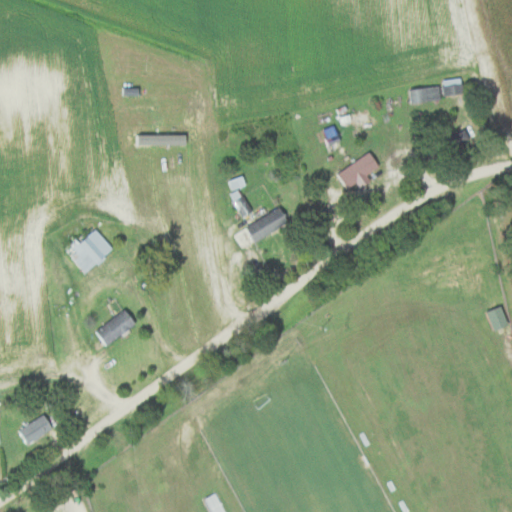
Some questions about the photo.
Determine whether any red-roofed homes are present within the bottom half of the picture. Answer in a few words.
No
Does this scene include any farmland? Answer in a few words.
Yes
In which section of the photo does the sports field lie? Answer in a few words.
bottom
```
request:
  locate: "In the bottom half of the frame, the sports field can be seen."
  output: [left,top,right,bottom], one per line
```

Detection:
[200,352,394,512]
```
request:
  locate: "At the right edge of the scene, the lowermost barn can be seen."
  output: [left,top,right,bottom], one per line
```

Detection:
[486,307,508,330]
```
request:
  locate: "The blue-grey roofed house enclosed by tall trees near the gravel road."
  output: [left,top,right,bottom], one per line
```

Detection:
[18,414,52,444]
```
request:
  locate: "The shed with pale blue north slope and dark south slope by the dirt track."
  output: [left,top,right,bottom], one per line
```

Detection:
[440,78,462,96]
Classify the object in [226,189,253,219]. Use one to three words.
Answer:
shed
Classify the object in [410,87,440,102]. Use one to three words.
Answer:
shed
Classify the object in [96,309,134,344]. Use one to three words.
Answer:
house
